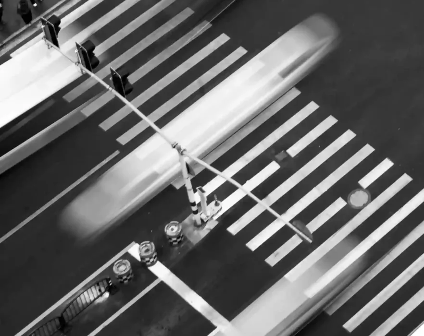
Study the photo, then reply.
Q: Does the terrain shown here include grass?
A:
No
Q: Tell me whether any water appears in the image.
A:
No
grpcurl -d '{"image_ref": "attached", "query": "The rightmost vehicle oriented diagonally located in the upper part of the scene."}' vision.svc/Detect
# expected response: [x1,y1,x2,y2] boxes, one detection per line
[111,46,289,200]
